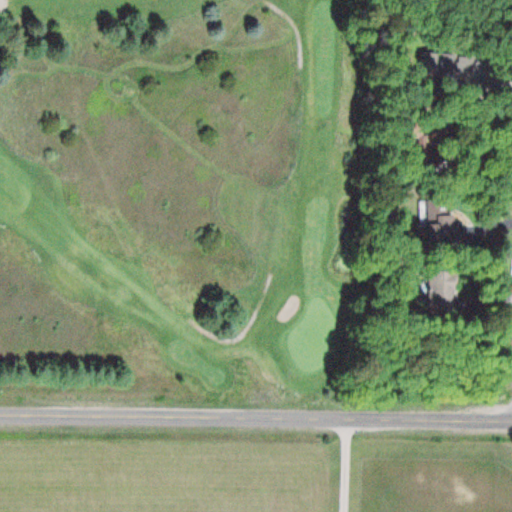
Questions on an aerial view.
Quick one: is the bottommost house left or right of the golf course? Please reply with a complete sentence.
It is on the right side of the golf course that the bottommost house is positioned.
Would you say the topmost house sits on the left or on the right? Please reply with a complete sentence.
You can find the topmost house on the right side of the picture.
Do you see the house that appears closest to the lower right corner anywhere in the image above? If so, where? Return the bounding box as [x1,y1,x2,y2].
[430,271,459,309]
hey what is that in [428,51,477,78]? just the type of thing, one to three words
house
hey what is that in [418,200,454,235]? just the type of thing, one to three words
house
